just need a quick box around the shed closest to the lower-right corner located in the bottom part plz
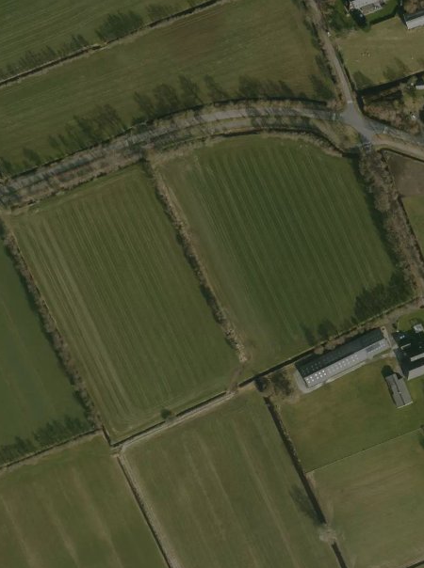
[384,372,412,408]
